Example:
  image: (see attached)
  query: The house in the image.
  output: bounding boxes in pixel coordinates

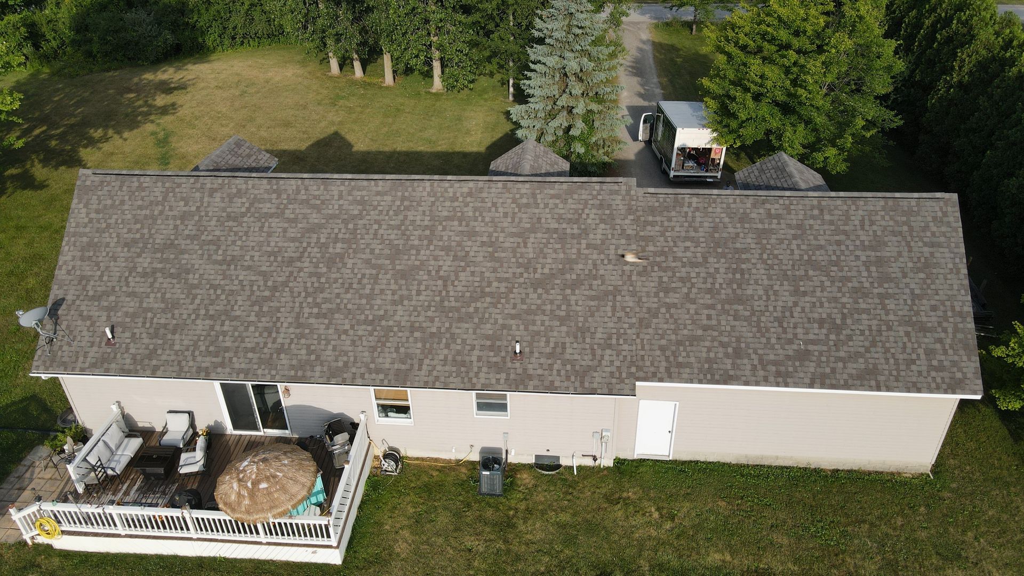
[28,135,983,478]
